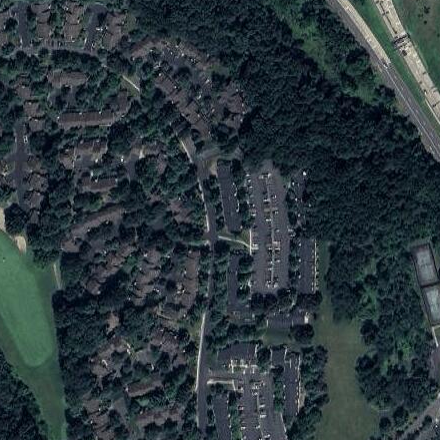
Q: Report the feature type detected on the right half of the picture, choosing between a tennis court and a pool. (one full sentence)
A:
The one visible on the right half of the picture is a tennis court.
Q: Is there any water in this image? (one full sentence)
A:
No, there is no water in the image.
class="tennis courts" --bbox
[421,282,440,327]
[412,244,439,287]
